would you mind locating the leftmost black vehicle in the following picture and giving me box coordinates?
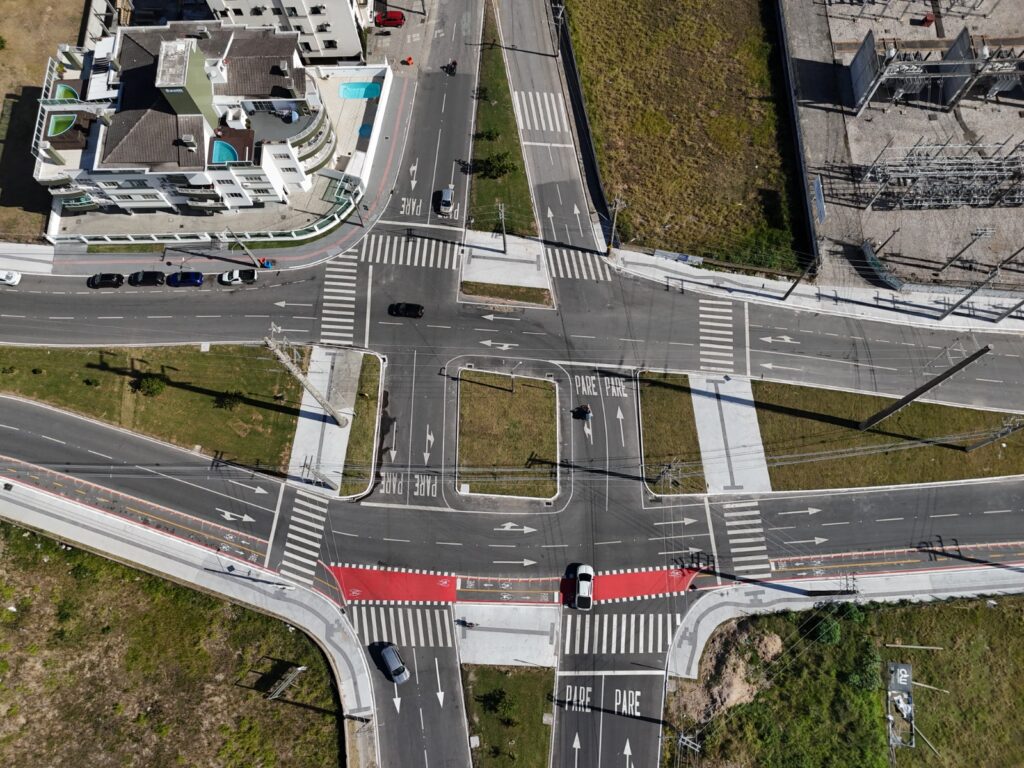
[85,270,123,287]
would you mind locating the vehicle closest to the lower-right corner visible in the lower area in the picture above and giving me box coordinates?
[574,564,595,612]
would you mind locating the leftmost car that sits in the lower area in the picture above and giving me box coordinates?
[378,641,409,687]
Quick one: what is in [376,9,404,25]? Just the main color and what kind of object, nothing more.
red car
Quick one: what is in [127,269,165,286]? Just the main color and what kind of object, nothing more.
black car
